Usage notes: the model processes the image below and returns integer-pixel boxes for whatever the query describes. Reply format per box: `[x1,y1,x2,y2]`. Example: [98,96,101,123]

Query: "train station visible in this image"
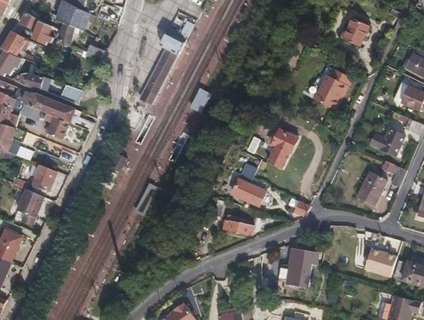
[48,0,249,320]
